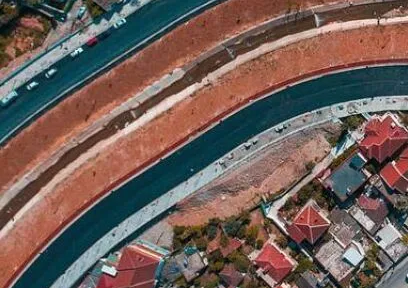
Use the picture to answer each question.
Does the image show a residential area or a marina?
residential area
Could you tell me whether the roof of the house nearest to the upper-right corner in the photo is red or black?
red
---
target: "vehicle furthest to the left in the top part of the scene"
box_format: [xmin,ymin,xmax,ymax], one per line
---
[1,92,17,104]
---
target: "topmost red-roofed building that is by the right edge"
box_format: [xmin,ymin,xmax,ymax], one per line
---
[361,119,408,164]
